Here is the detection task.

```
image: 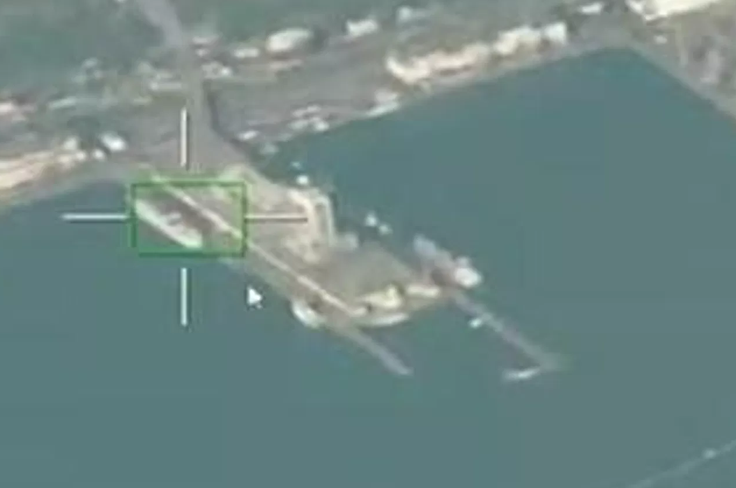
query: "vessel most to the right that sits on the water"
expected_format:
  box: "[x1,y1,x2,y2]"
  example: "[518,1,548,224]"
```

[506,367,541,379]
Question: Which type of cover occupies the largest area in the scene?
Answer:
water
